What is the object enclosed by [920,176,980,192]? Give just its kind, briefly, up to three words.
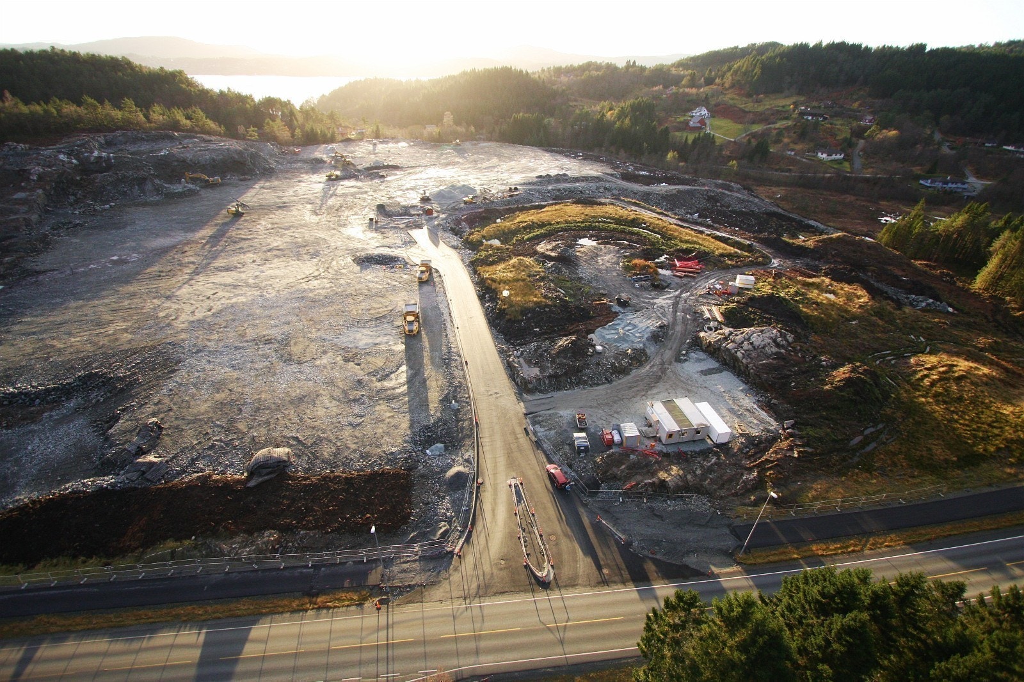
house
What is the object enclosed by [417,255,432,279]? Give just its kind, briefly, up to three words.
vehicle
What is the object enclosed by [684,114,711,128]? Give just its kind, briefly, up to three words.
barn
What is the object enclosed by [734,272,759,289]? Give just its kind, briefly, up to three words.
shed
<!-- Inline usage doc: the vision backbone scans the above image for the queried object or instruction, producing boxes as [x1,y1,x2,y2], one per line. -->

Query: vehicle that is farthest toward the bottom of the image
[546,469,573,497]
